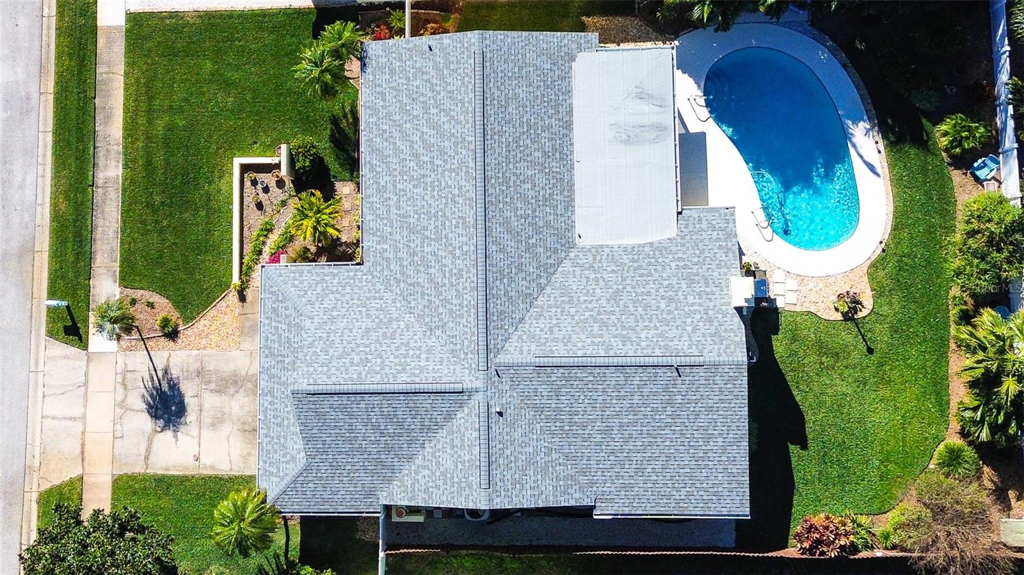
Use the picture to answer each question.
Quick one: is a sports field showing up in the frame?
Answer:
No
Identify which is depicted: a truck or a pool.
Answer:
pool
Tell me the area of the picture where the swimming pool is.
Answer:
top right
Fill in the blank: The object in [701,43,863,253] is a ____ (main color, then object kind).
blue swimming pool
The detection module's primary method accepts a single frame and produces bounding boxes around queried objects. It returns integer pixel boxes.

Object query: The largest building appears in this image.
[254,30,754,520]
